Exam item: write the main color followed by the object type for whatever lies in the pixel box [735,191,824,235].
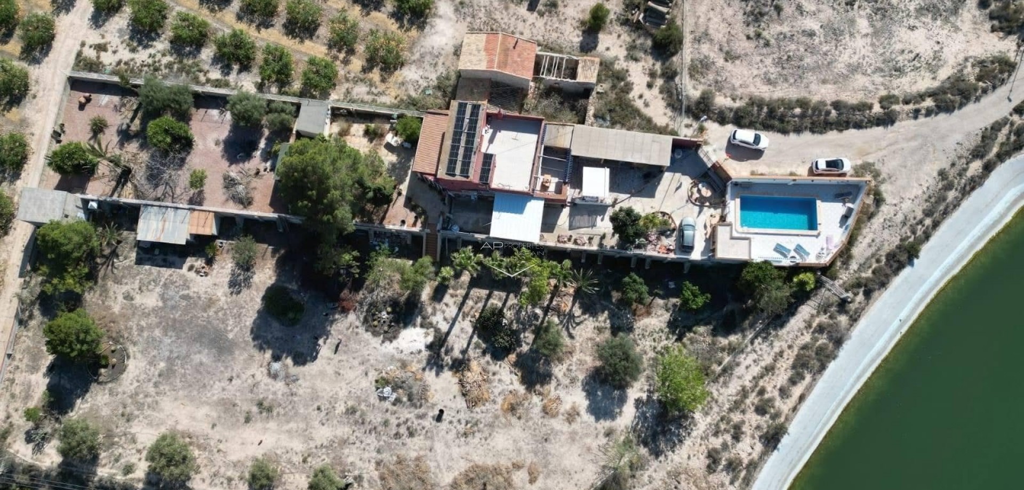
blue swimming pool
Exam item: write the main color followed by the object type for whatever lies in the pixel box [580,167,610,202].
white gazebo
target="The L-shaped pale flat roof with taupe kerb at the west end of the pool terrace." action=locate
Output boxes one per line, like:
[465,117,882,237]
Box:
[714,223,753,261]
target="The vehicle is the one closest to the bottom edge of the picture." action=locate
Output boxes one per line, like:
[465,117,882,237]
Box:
[677,217,697,253]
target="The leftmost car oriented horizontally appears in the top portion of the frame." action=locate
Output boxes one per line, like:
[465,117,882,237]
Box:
[729,130,768,152]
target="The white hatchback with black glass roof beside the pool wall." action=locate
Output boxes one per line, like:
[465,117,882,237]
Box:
[811,156,850,176]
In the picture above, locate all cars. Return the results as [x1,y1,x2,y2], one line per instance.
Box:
[811,156,850,176]
[729,130,768,152]
[677,217,697,253]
